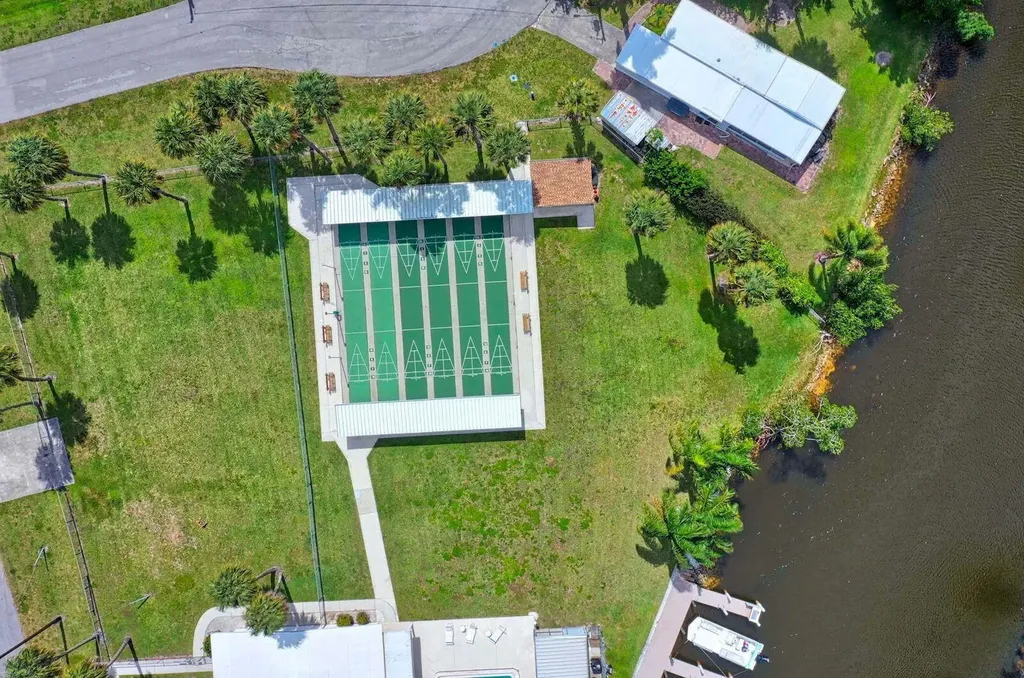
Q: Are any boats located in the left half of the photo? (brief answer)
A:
No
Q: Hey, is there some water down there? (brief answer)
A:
Yes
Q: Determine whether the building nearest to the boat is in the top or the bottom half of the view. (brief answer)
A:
bottom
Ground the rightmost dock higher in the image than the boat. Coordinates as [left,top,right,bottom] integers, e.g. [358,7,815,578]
[694,584,757,617]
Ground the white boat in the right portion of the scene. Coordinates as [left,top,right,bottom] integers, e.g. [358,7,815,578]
[686,618,764,668]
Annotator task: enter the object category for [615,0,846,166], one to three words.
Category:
house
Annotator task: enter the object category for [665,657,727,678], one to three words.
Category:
pier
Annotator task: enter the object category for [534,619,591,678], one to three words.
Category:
building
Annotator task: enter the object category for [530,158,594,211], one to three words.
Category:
shed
